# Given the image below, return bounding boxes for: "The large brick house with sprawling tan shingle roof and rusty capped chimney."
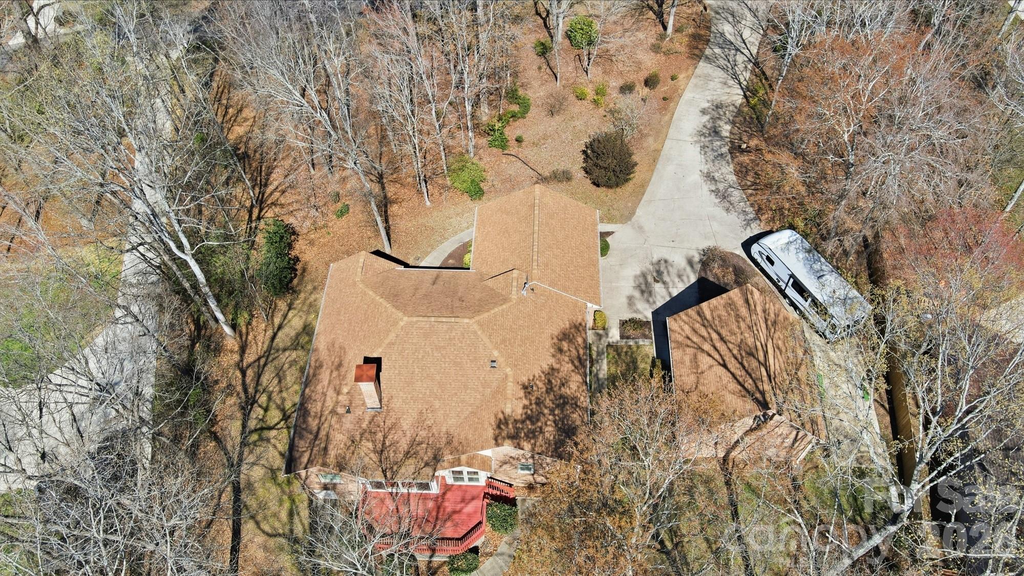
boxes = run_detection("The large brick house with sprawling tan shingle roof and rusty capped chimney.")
[281,187,603,509]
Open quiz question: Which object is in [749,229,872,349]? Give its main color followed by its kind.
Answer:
white trailer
